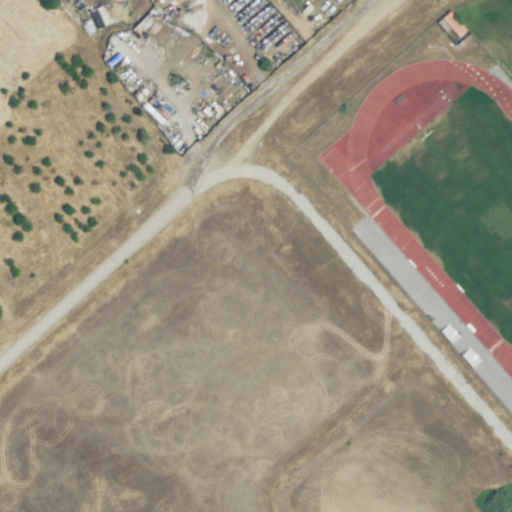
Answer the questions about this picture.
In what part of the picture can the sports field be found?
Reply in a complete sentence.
The sports field appears toward the right of the photo.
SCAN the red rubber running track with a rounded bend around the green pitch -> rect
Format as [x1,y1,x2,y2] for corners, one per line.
[320,60,512,380]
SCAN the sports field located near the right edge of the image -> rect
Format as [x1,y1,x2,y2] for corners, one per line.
[371,86,512,348]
